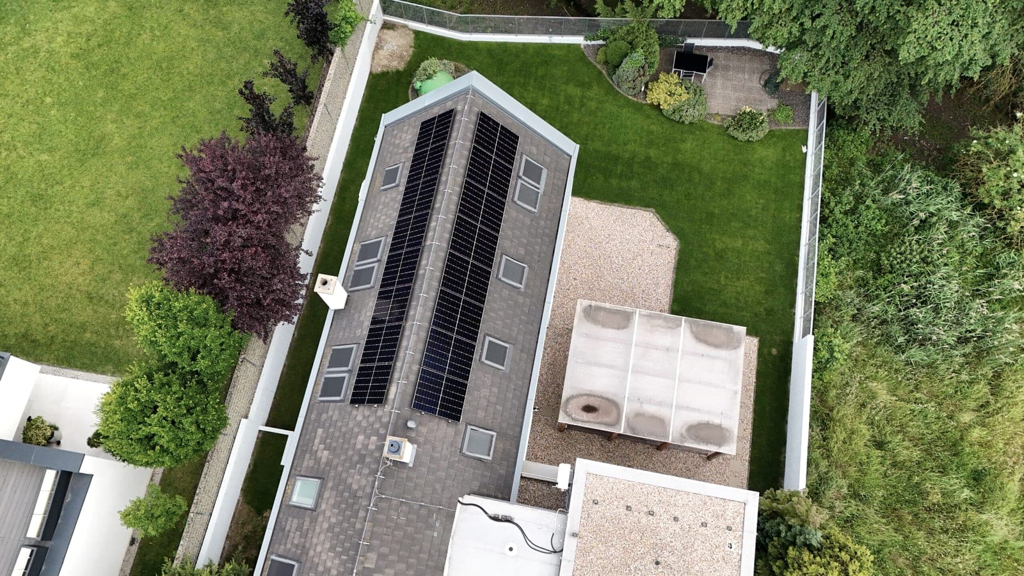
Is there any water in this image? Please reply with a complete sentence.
No, the scene doesn't show any water.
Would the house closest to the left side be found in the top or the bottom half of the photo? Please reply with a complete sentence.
The house closest to the left side sits in the bottom half of the picture.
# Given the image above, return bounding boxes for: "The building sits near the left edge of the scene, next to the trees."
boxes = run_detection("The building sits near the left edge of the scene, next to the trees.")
[0,437,153,576]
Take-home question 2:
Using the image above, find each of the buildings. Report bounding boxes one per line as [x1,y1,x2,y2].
[255,68,581,576]
[0,437,153,576]
[559,458,759,576]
